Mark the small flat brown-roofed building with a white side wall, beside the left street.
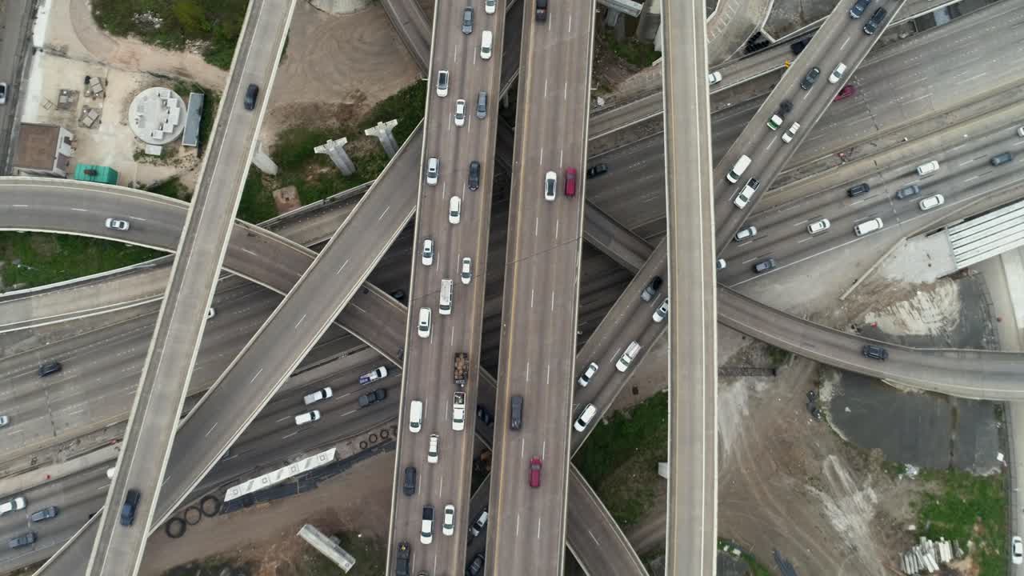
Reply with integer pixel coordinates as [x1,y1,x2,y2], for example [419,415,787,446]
[10,121,75,177]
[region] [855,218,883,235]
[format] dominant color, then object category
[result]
white vehicle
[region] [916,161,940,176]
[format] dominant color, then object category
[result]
white car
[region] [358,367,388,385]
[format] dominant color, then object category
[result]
white vehicle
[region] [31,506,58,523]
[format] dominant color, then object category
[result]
gray car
